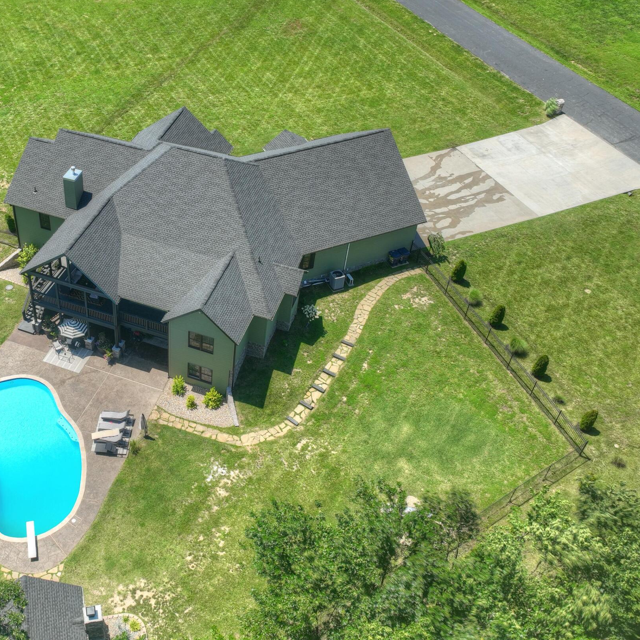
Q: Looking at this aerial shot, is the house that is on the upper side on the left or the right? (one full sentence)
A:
The house that is on the upper side sits on the left side.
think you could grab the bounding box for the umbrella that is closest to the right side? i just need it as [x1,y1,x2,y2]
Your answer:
[139,410,153,442]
